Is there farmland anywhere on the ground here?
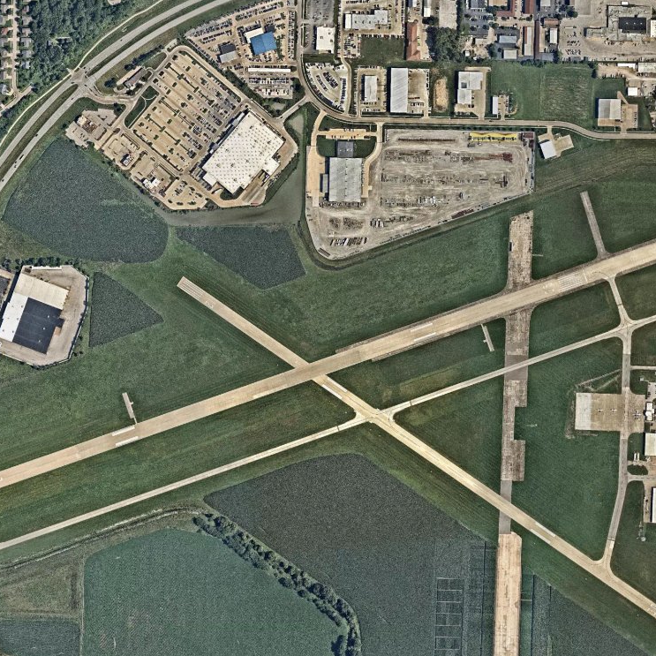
Yes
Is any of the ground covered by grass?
Yes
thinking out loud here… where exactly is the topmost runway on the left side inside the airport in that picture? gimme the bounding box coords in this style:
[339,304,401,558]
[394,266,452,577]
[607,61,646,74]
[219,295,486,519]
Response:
[177,277,330,385]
